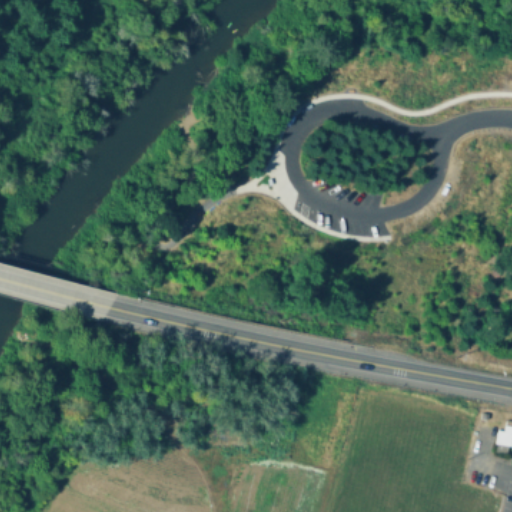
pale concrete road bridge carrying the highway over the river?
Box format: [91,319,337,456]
[0,262,117,322]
